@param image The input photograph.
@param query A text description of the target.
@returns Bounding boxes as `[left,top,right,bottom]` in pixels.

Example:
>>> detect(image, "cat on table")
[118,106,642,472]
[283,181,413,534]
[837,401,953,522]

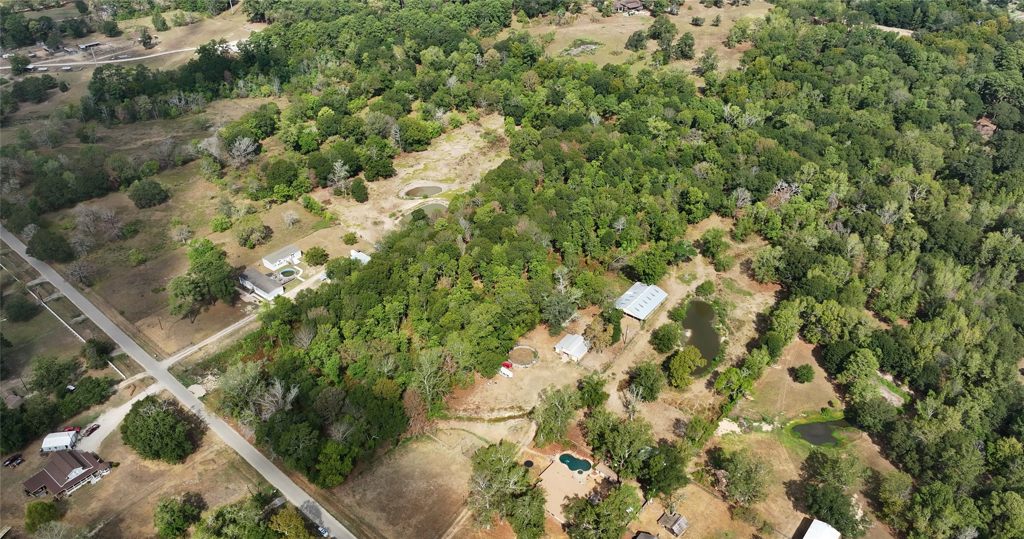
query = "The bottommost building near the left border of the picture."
[23,452,114,501]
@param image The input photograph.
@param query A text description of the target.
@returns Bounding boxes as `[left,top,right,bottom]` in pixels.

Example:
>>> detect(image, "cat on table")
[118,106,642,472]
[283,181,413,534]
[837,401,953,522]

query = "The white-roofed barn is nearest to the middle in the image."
[553,334,593,364]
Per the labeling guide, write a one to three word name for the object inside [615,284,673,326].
barn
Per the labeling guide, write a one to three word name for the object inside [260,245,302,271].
house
